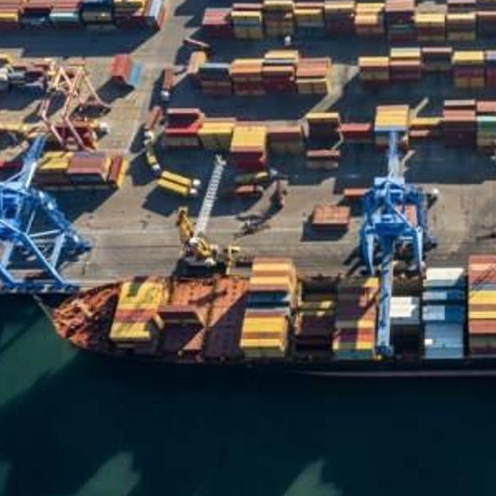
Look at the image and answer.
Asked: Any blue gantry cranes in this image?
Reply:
Yes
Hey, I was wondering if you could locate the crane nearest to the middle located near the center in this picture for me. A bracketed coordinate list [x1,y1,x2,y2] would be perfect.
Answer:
[176,150,229,284]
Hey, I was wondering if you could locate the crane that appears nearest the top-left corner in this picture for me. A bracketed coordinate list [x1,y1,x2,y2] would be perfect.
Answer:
[40,68,109,150]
